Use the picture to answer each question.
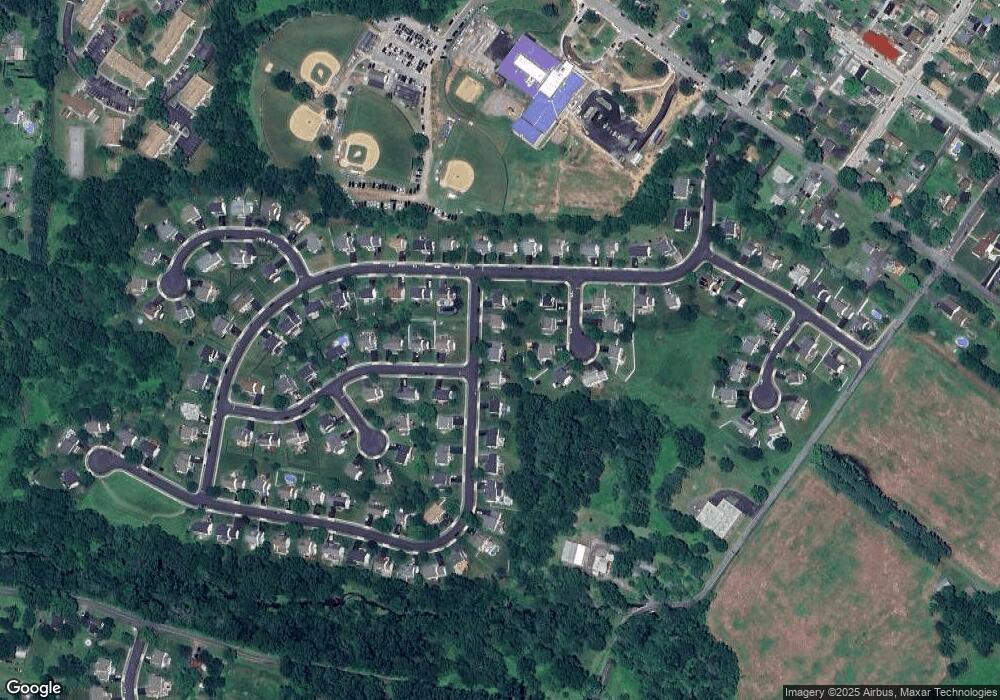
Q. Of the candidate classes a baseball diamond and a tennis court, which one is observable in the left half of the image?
baseball diamond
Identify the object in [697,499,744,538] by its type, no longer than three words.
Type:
building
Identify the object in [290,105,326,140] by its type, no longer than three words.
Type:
baseball field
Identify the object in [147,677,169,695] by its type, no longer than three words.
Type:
house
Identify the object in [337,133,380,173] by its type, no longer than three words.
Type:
baseball field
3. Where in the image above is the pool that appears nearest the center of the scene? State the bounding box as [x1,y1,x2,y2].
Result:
[335,334,351,348]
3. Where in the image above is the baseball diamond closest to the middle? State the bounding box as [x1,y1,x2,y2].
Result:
[436,160,475,197]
